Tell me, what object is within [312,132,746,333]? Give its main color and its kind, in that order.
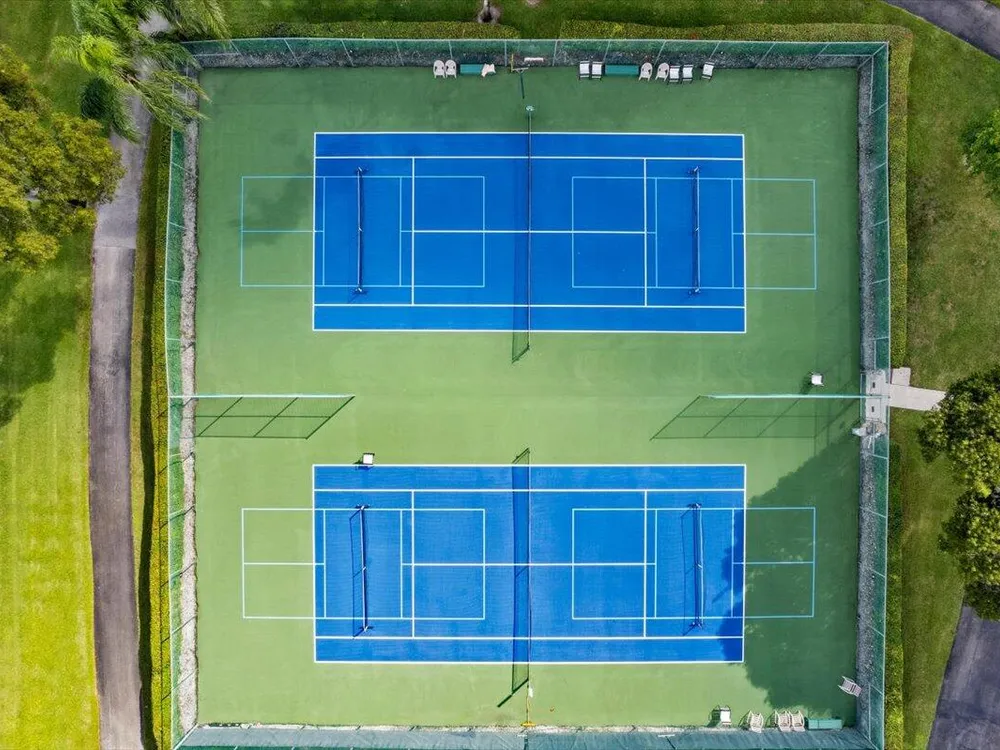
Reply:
blue tennis court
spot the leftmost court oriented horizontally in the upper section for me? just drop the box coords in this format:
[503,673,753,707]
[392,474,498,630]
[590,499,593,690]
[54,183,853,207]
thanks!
[239,176,485,287]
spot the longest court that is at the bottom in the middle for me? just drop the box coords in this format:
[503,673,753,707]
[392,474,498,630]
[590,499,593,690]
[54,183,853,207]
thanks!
[313,464,745,663]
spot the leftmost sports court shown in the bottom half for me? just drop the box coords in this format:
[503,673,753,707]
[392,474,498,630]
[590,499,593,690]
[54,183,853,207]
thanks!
[241,508,485,619]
